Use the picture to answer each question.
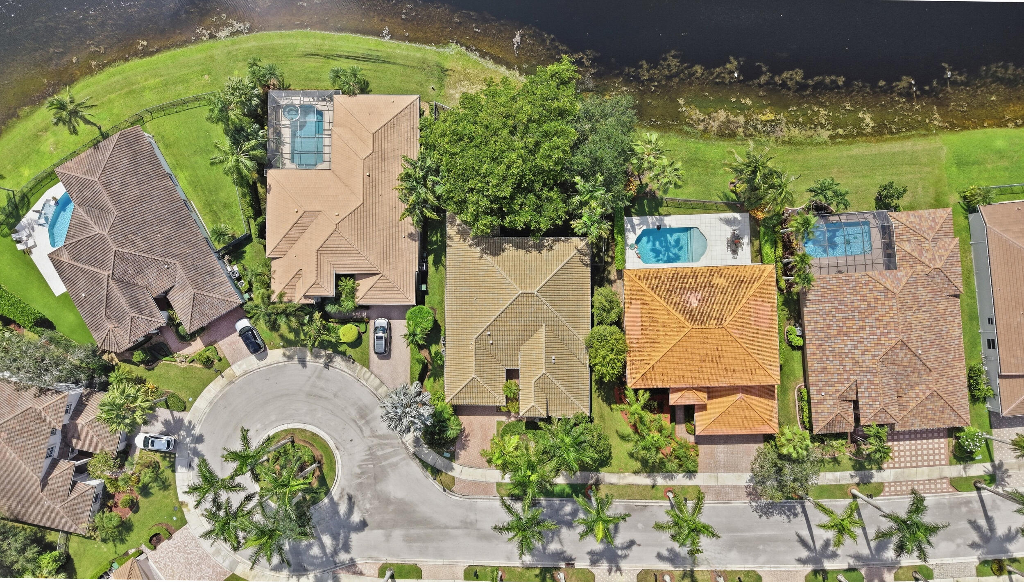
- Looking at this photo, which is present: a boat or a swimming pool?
swimming pool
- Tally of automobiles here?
3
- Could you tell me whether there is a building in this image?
Yes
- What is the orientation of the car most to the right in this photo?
vertically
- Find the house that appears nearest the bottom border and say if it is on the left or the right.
left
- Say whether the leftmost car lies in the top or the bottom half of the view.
bottom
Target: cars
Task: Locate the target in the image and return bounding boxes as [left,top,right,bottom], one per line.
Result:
[236,318,266,356]
[371,317,391,355]
[136,432,175,452]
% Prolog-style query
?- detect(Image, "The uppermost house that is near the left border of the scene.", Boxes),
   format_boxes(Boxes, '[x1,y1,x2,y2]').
[46,125,248,354]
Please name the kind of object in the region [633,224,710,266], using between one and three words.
swimming pool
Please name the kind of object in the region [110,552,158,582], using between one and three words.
house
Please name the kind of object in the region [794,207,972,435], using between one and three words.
house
